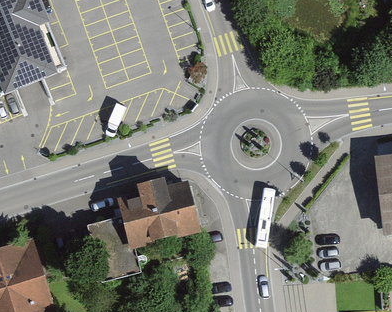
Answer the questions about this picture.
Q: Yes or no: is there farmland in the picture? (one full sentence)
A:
No, farmland can't be seen anywhere here.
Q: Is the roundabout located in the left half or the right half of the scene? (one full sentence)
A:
The roundabout is on the right side of the image.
